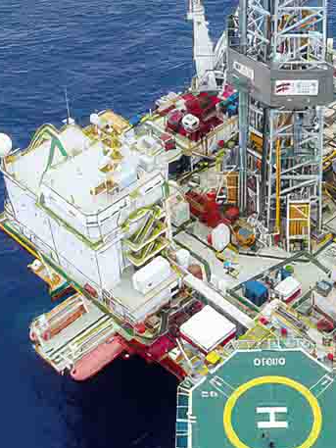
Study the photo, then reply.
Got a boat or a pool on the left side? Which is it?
boat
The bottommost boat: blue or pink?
pink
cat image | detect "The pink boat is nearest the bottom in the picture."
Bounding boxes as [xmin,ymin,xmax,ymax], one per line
[77,340,135,386]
